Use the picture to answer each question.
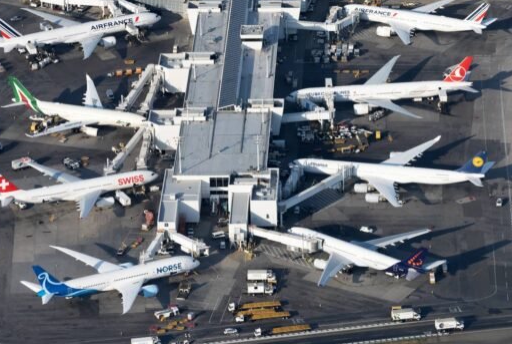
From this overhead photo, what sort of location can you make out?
airport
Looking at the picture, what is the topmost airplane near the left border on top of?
apron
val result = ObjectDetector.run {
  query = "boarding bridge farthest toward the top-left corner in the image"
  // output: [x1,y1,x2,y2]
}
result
[66,0,124,20]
